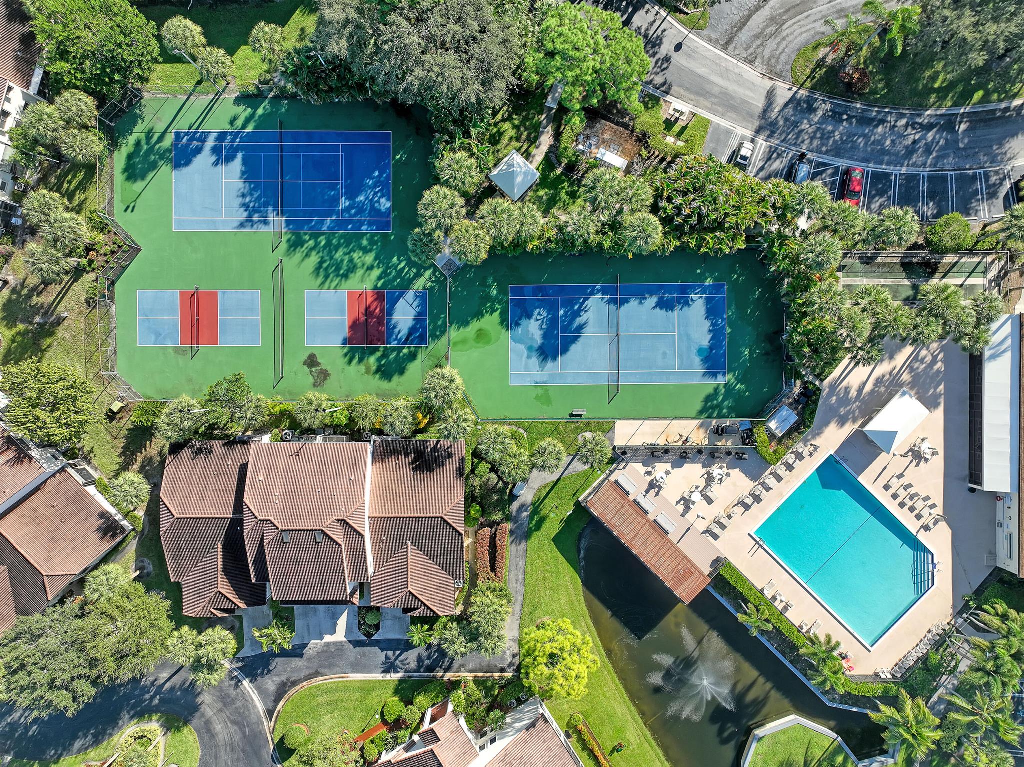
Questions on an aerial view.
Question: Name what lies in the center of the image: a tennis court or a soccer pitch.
tennis court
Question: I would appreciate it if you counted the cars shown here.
3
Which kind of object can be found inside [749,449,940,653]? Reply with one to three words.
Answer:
swimming pool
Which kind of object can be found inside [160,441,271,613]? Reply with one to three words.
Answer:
house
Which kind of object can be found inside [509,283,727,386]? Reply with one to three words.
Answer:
tennis court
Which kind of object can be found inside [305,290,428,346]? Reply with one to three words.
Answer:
sports court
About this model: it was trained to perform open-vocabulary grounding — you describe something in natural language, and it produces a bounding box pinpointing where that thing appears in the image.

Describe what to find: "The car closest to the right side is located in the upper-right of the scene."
[842,164,866,207]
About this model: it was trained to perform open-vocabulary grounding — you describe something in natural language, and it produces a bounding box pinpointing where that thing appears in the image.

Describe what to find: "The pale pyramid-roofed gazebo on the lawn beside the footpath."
[488,151,540,206]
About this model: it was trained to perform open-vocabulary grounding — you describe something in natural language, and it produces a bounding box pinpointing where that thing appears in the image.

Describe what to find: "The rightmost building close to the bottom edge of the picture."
[458,697,584,767]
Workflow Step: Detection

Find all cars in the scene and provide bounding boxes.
[789,154,817,186]
[842,164,866,207]
[733,136,757,176]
